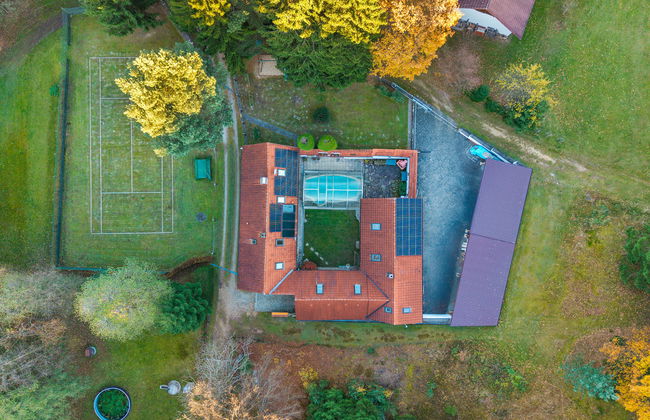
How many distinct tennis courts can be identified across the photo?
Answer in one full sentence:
I count 1 tennis court.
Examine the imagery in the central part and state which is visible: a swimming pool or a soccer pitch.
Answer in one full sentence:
There is a swimming pool in the central part.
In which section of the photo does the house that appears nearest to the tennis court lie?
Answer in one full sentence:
The house that appears nearest to the tennis court is located in the center region of the scene.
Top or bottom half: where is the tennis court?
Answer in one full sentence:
The tennis court is in the top half of the image.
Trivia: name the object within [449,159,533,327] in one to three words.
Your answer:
shed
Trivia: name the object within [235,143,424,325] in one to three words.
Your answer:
house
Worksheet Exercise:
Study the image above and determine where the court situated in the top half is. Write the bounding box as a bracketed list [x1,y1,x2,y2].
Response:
[86,52,177,239]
